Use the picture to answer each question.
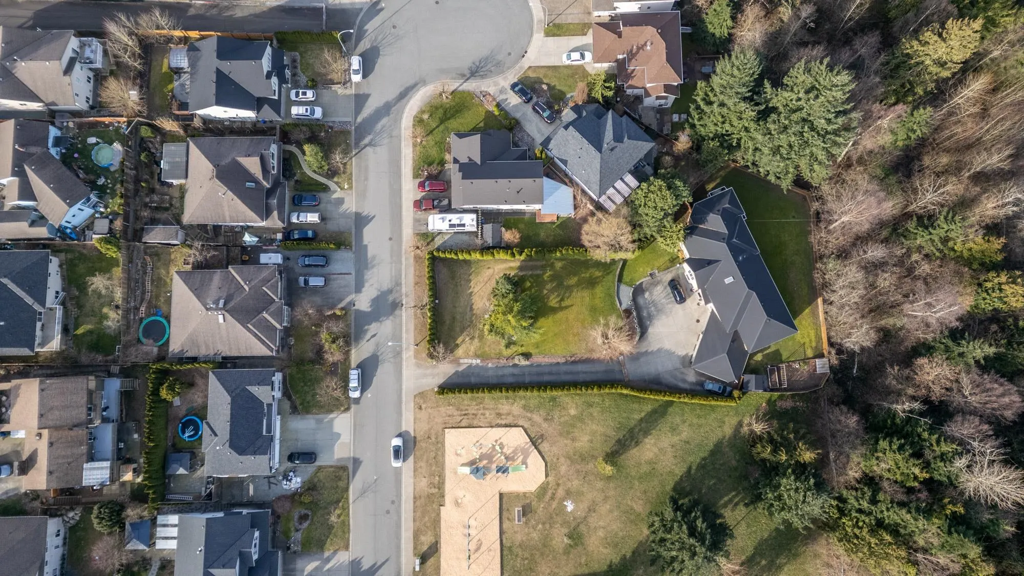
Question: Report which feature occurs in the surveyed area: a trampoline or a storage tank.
trampoline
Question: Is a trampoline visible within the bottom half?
Yes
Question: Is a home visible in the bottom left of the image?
Yes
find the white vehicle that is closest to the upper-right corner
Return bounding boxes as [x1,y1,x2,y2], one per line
[562,50,592,65]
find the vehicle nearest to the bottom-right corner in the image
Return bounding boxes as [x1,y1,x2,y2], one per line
[702,379,733,397]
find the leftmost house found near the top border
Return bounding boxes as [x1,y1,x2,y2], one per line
[0,25,118,113]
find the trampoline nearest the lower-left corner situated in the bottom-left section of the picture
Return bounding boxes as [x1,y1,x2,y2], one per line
[178,416,203,441]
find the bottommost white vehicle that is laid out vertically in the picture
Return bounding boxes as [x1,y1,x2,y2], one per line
[390,436,404,466]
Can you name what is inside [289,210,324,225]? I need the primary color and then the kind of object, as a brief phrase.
white vehicle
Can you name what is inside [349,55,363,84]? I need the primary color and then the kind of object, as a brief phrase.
white car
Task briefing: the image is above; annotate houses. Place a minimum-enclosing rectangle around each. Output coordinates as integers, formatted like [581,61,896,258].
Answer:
[0,509,67,576]
[0,25,118,113]
[170,35,291,121]
[0,375,137,490]
[0,118,108,239]
[202,369,285,476]
[451,130,574,222]
[163,137,289,227]
[0,250,72,356]
[168,265,295,361]
[680,185,799,383]
[157,504,282,576]
[539,103,656,211]
[592,11,692,101]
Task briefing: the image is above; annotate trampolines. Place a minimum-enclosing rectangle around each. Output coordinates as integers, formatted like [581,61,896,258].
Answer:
[178,416,203,441]
[138,315,170,346]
